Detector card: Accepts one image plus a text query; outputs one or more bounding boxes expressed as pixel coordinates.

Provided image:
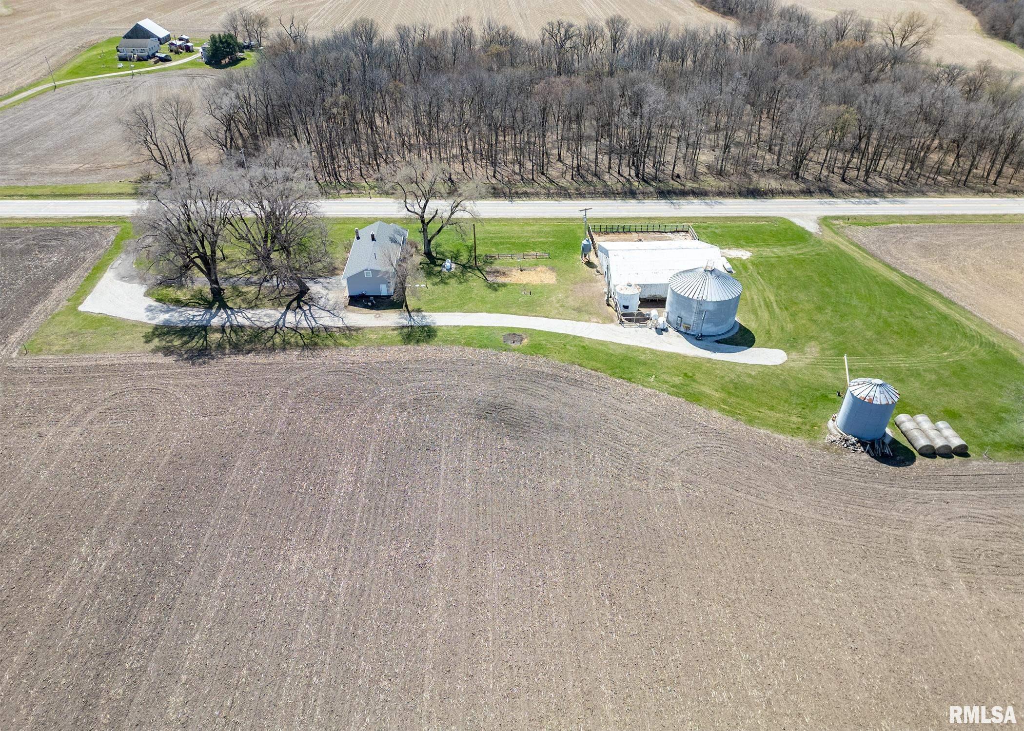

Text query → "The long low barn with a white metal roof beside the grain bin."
[598,239,732,296]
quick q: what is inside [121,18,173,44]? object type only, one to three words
barn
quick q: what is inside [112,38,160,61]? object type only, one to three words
house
